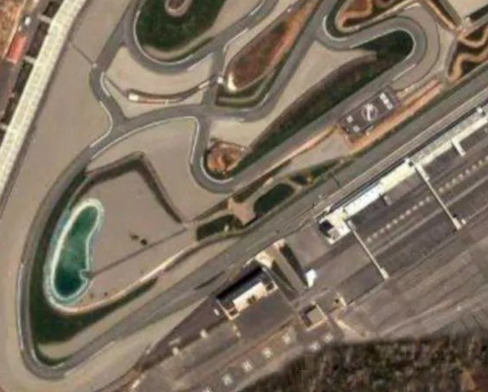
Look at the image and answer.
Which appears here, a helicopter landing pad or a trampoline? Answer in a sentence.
There is a helicopter landing pad in the scene.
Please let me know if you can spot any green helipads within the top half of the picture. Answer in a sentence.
No, within the top half of the picture there is no green helipad.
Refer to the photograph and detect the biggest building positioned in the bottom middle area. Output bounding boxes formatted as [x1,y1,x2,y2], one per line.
[216,265,277,319]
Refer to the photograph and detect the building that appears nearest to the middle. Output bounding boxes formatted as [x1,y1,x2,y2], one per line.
[246,238,286,268]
